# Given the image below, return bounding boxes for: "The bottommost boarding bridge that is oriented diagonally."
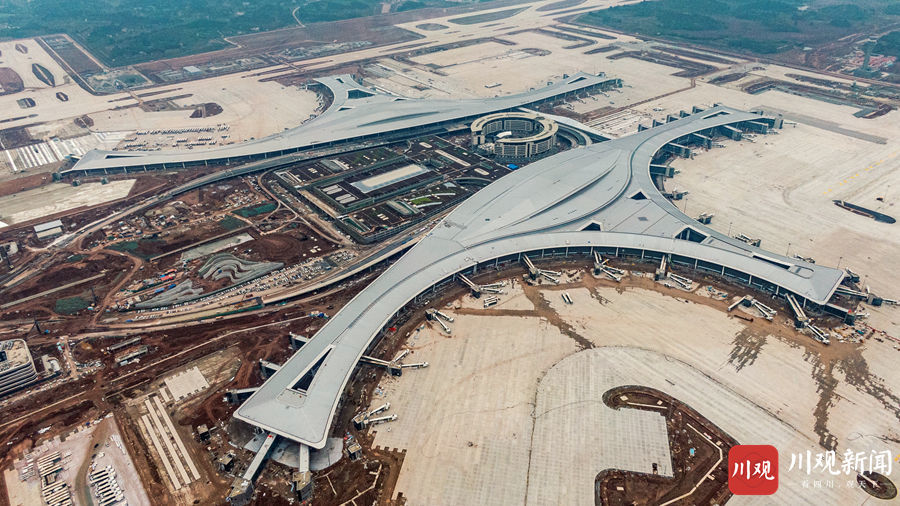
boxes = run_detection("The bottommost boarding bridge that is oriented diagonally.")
[230,434,278,506]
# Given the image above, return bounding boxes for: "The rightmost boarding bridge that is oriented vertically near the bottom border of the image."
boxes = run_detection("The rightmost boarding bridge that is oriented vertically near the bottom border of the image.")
[292,445,310,499]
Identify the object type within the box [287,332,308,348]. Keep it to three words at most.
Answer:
jet bridge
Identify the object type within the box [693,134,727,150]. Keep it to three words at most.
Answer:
jet bridge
